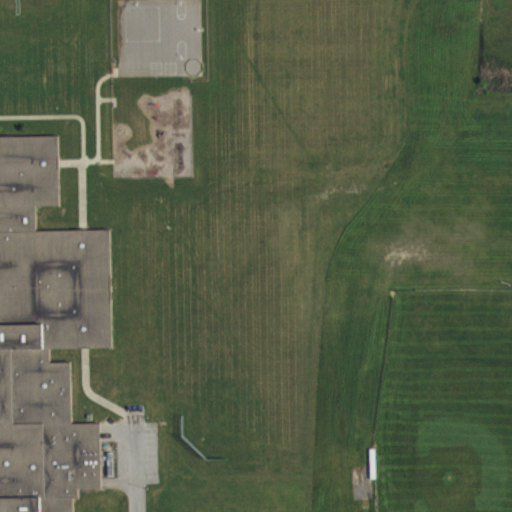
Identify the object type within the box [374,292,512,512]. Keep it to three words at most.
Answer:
baseball field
